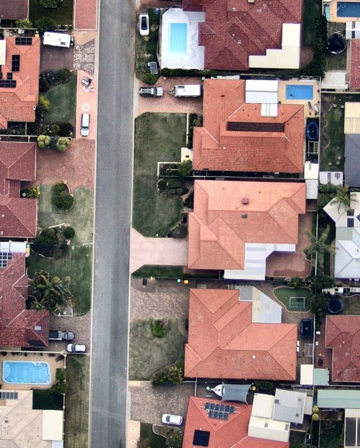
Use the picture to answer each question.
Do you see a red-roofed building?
Yes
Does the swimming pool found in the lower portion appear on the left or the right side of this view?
left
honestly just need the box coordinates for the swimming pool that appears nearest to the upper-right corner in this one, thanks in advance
[332,0,360,19]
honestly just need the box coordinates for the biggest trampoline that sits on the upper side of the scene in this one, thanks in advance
[329,32,346,52]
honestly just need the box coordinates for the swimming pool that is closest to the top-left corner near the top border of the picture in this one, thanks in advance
[167,19,191,56]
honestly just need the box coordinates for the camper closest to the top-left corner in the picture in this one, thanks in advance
[43,31,75,46]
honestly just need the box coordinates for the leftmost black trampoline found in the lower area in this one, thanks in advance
[301,318,314,338]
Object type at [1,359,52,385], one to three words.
swimming pool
